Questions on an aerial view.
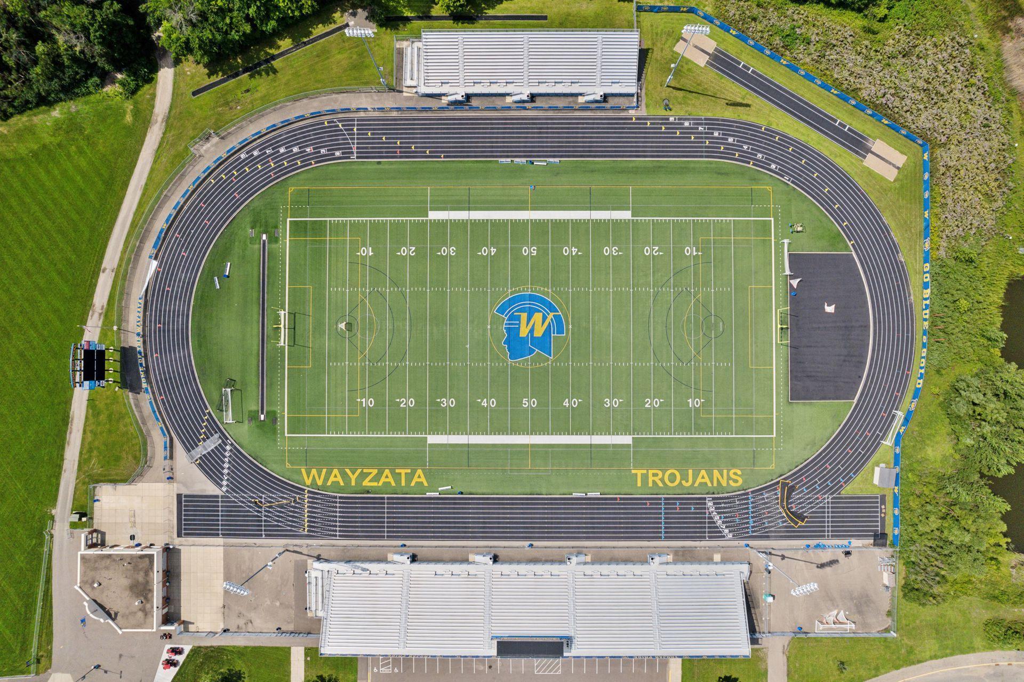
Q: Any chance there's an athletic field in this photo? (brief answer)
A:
Yes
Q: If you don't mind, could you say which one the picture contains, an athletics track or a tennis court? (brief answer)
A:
athletics track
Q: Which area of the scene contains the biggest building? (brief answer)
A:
bottom left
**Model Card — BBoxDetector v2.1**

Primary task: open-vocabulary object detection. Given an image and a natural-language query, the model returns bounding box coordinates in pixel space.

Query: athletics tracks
[145,116,917,542]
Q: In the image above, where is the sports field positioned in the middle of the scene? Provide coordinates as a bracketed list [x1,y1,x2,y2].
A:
[192,162,869,494]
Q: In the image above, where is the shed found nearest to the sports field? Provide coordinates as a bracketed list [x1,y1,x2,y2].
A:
[872,467,896,488]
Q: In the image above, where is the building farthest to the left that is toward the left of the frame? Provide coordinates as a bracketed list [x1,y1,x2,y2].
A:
[75,547,168,634]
